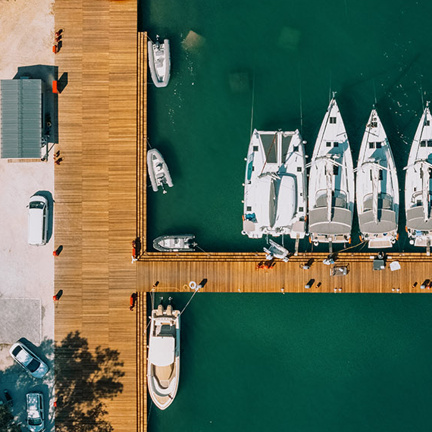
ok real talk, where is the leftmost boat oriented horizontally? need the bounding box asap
[152,234,208,253]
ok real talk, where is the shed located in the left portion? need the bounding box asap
[0,78,43,159]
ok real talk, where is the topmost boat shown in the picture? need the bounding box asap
[147,31,171,87]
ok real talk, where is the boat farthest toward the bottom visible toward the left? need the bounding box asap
[144,287,199,429]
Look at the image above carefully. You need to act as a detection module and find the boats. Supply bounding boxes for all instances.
[147,139,172,201]
[351,87,399,250]
[303,92,354,259]
[262,239,288,259]
[144,287,199,429]
[152,234,208,253]
[241,82,310,257]
[147,31,171,87]
[404,76,432,253]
